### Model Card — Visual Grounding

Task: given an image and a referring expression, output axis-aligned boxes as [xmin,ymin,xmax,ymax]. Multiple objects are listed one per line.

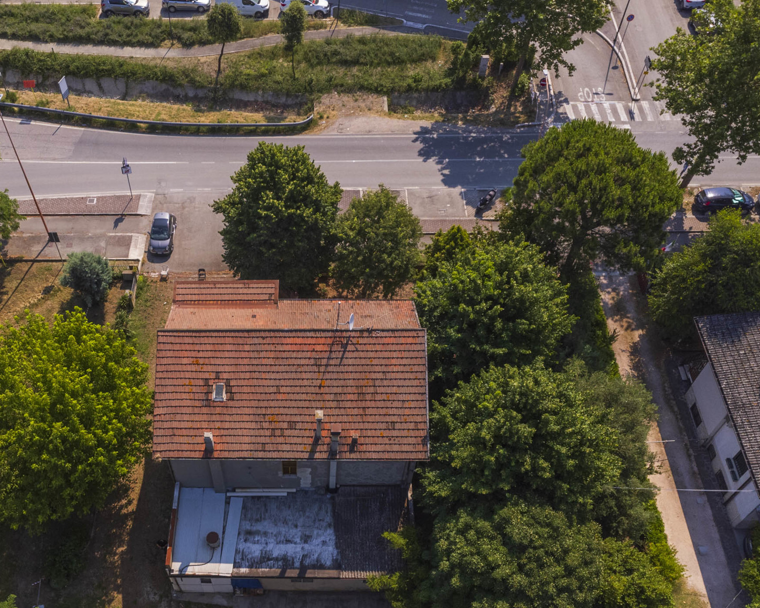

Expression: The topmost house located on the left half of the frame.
[154,276,429,517]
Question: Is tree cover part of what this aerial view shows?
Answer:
Yes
